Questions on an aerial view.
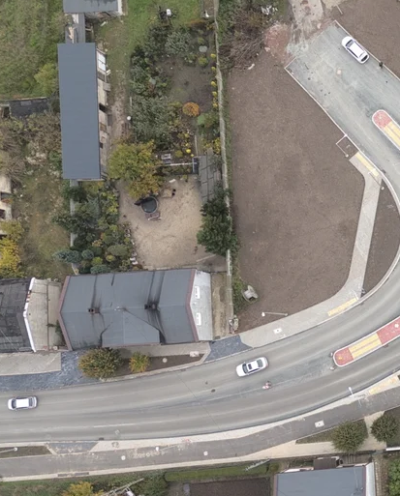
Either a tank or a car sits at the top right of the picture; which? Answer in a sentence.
The one visible at the top right of the picture is a car.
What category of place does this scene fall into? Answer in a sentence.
It's a residential area.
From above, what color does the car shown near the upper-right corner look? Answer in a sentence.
The car shown near the upper-right corner is white.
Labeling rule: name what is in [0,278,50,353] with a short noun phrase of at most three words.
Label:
house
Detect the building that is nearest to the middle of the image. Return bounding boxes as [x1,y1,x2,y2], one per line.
[57,268,211,351]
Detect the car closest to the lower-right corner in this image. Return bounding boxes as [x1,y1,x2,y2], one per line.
[236,356,269,377]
